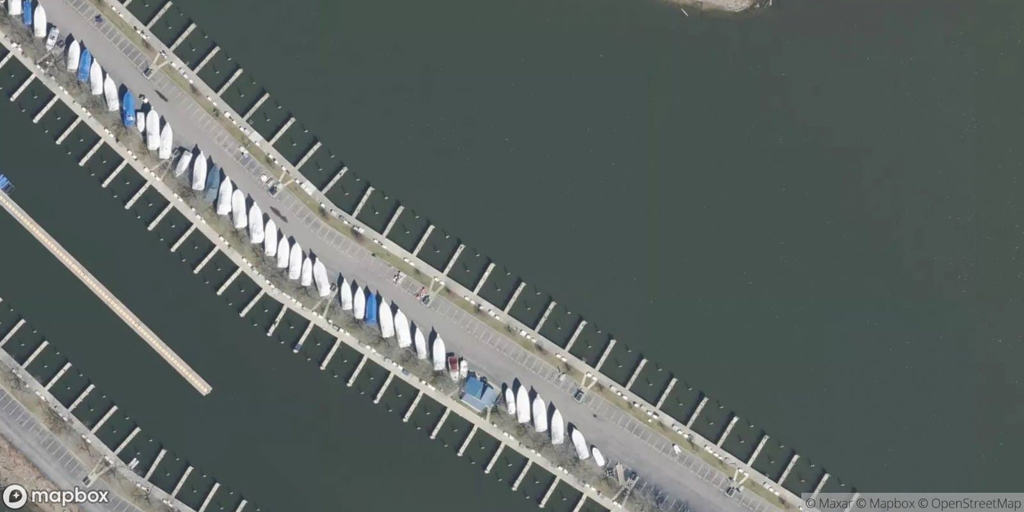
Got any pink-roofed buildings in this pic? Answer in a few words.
No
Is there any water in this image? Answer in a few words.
Yes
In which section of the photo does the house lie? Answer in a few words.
bottom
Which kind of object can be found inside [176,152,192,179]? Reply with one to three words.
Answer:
boat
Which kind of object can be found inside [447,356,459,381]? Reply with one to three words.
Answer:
boat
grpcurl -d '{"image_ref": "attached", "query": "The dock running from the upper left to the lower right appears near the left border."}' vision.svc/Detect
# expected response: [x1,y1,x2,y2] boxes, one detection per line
[0,186,212,397]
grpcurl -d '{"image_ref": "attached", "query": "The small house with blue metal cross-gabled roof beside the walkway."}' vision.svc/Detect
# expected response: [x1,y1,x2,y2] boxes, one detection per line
[461,377,496,412]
